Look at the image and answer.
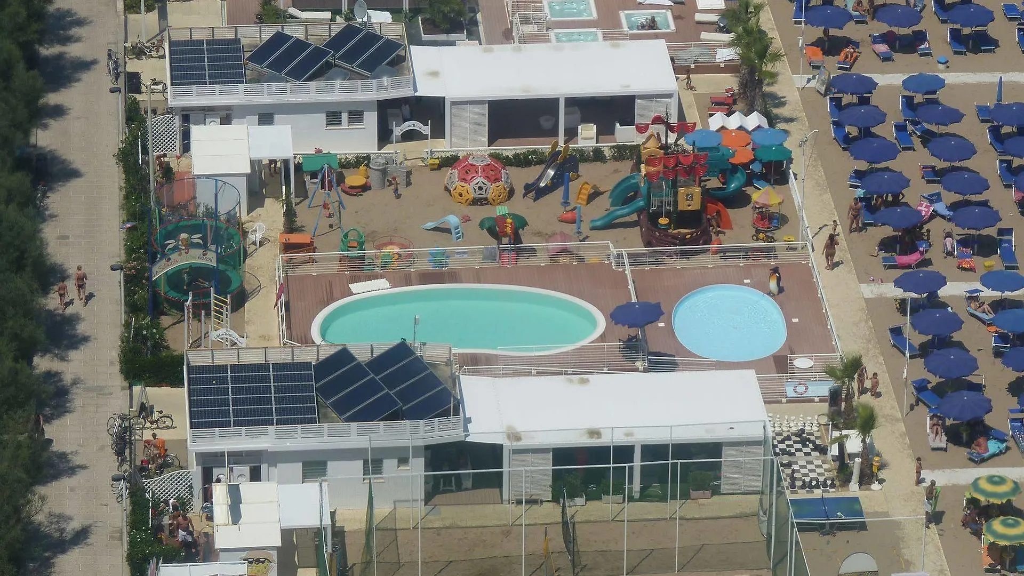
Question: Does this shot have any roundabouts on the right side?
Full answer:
No, there's no roundabout to be seen on the right side.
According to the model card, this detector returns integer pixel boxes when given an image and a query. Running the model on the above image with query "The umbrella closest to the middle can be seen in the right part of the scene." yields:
[610,299,667,365]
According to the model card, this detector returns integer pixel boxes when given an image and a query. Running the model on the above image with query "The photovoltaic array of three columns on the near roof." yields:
[189,353,318,433]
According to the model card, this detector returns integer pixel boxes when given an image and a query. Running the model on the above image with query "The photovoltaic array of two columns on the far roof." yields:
[172,33,246,88]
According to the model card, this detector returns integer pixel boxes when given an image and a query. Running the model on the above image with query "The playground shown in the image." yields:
[242,178,284,351]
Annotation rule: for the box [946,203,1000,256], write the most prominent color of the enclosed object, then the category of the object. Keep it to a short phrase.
blue umbrella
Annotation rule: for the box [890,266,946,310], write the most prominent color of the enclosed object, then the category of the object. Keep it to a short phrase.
blue umbrella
